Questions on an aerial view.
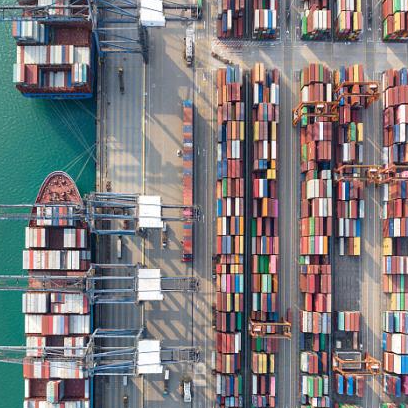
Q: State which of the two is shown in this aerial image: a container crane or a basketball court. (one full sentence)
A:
Of the two, only a container crane appears.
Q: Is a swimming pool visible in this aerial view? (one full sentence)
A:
No, there isn't any swimming pool down there.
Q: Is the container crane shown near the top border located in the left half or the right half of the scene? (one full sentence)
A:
The container crane shown near the top border is on the left side of the image.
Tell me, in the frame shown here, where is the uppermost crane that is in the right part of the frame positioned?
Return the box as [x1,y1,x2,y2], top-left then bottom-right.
[329,83,381,111]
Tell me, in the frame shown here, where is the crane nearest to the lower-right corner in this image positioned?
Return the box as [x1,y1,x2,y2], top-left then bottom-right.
[327,351,379,377]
